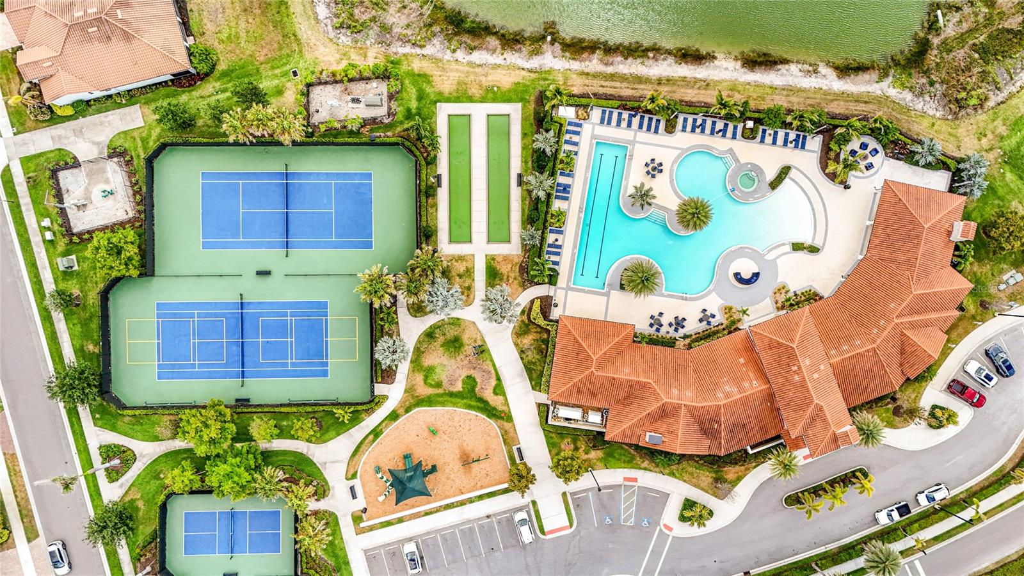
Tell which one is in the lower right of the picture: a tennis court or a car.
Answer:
car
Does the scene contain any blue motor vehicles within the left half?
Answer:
No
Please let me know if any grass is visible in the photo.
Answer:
Yes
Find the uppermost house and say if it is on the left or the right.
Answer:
left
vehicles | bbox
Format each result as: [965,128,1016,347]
[872,496,915,524]
[913,481,949,504]
[942,374,985,406]
[982,341,1014,378]
[403,540,424,576]
[963,356,997,389]
[48,540,71,574]
[515,510,534,546]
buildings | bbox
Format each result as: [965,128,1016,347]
[547,179,975,458]
[4,0,197,106]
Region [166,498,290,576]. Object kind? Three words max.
sports court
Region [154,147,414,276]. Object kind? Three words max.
tennis court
